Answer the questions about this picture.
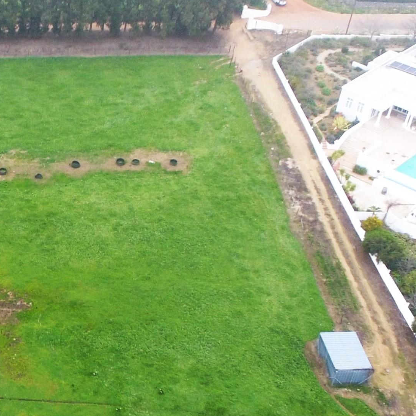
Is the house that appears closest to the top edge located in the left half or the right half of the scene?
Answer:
right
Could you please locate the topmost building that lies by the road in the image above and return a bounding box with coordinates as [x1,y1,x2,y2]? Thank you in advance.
[335,42,416,131]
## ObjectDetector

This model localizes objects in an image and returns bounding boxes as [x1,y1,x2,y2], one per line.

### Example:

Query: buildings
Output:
[312,328,376,392]
[335,42,416,131]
